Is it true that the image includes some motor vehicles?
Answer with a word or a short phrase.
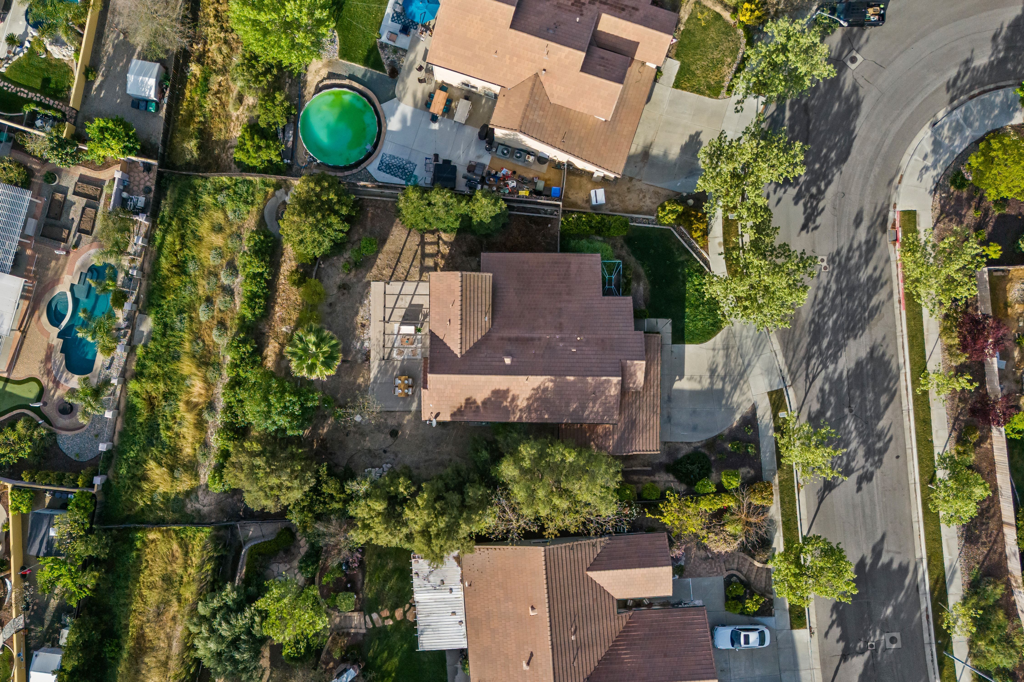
Yes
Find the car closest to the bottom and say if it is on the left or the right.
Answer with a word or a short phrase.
right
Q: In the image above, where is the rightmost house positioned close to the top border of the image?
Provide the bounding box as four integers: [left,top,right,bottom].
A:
[425,0,681,176]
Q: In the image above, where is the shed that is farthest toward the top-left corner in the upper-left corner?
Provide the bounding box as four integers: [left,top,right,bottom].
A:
[126,59,166,103]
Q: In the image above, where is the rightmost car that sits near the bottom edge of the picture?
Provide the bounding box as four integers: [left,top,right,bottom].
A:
[712,622,772,653]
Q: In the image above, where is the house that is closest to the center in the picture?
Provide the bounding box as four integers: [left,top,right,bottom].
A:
[421,252,662,456]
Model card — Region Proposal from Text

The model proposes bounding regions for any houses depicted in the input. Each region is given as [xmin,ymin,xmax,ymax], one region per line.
[425,0,681,176]
[460,529,719,682]
[421,252,662,456]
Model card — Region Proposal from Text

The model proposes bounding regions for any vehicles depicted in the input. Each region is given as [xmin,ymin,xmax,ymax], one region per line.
[712,622,772,653]
[815,0,887,33]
